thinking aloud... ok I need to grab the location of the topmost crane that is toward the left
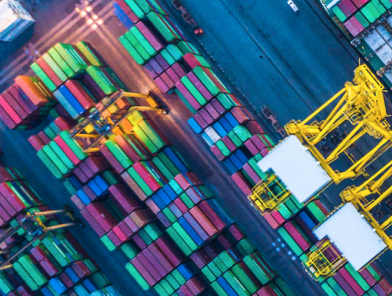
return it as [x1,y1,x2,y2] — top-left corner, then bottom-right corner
[66,88,165,156]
